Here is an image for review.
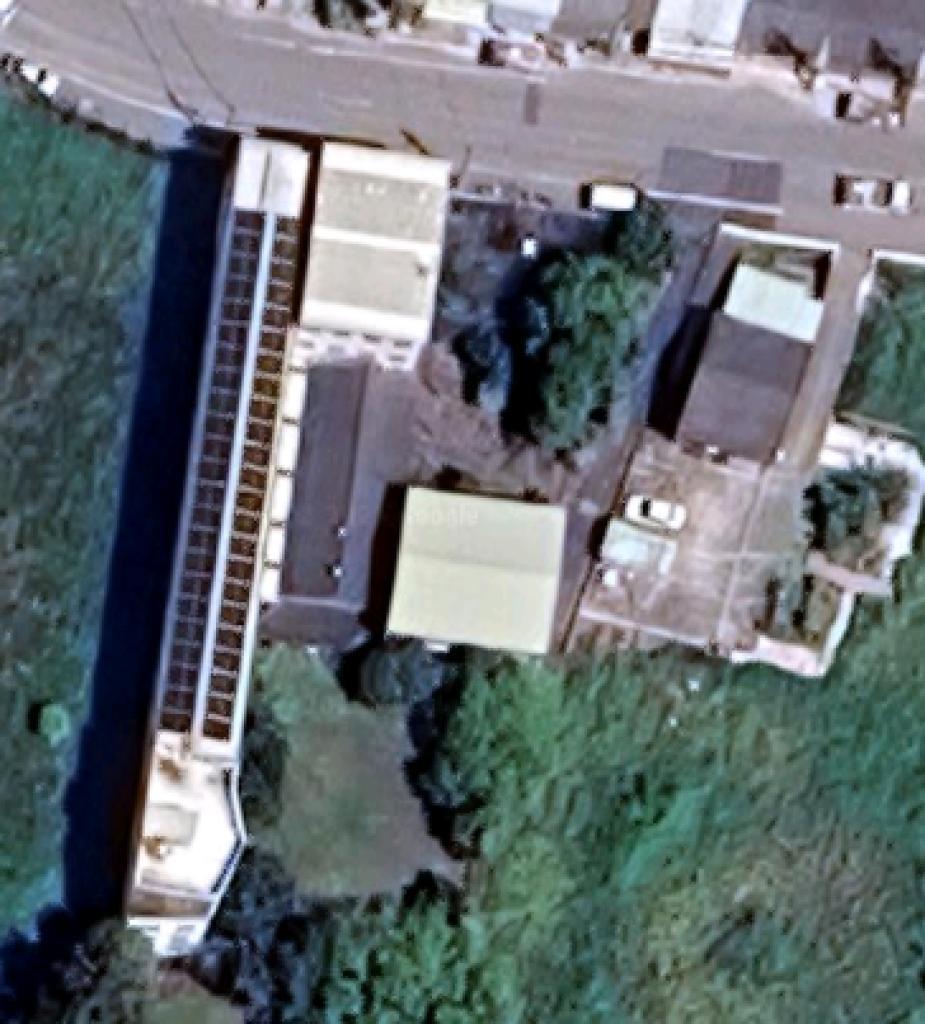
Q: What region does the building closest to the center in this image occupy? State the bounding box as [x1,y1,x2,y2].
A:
[387,487,568,655]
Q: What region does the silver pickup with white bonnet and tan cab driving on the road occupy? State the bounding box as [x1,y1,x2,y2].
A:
[834,176,910,209]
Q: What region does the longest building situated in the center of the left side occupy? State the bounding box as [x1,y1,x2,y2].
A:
[129,139,318,955]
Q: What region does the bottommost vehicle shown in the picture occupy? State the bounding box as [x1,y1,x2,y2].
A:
[623,496,689,532]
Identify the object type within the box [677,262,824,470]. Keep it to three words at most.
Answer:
house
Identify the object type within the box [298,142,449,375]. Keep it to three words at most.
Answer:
building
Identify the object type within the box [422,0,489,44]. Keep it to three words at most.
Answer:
house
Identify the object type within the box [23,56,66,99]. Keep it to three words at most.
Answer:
car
